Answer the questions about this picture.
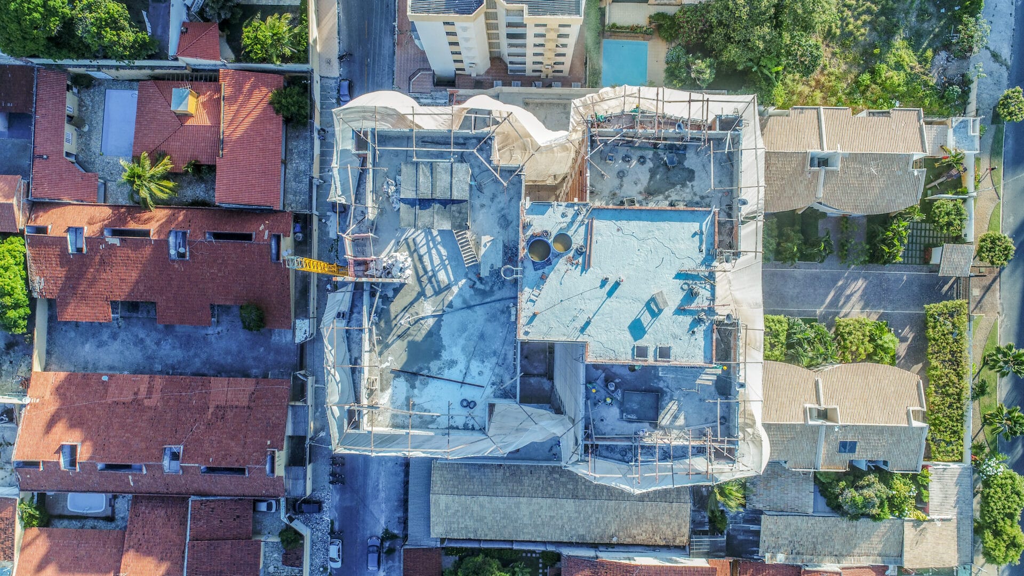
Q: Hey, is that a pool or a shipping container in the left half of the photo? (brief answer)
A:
pool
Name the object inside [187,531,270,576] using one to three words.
house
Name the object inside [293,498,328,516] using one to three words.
car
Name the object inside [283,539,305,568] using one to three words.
shed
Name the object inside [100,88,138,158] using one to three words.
swimming pool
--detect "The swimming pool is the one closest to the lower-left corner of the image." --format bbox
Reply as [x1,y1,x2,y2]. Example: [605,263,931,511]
[65,493,109,514]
